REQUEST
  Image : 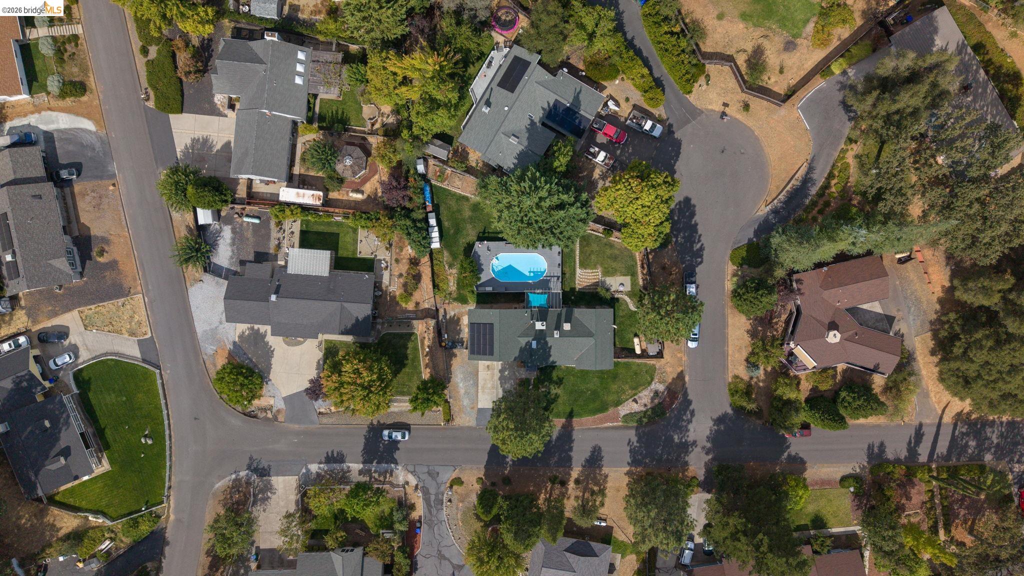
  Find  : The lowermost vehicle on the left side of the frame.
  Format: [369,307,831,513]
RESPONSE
[382,428,409,441]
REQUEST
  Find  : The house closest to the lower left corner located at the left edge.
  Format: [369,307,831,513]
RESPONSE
[0,345,104,500]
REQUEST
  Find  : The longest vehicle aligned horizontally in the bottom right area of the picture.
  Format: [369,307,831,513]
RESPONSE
[783,428,813,441]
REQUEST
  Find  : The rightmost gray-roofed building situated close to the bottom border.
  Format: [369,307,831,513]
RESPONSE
[532,535,612,576]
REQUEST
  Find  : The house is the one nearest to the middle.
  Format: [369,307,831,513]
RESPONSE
[468,307,614,370]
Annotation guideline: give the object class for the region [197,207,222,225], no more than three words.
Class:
shed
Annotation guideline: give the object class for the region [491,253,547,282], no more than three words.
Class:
swimming pool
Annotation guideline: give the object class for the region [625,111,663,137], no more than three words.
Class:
truck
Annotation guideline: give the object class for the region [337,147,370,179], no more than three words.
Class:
gazebo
